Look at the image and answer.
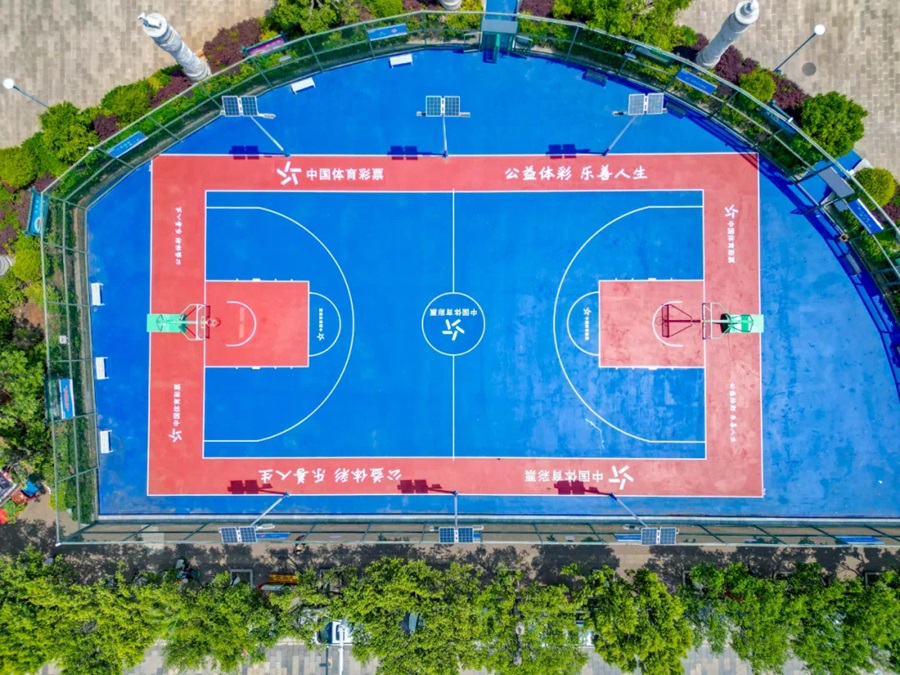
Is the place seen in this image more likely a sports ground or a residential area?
sports ground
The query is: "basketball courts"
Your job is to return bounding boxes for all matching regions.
[87,47,900,515]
